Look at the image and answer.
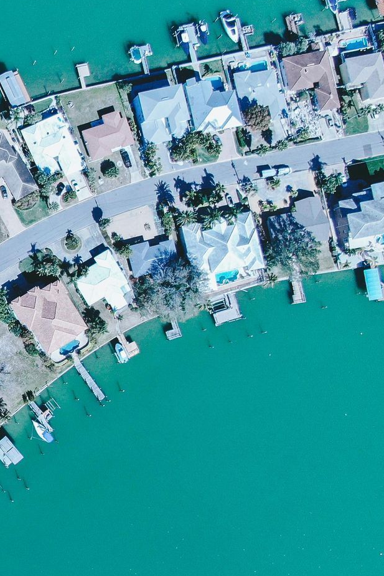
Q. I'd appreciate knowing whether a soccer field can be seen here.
No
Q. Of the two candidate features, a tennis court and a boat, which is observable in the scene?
boat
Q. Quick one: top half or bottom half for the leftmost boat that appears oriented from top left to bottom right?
bottom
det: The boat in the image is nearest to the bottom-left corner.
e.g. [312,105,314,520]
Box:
[34,418,55,444]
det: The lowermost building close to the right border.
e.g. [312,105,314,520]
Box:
[356,269,380,299]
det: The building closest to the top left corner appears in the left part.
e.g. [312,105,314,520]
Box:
[0,70,22,109]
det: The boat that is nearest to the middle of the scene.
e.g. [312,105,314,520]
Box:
[116,343,130,366]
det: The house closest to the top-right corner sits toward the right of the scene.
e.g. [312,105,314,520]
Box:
[336,51,384,102]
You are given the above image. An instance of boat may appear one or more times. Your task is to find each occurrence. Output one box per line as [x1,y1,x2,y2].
[34,418,55,444]
[177,26,191,54]
[349,5,357,20]
[198,19,210,44]
[116,343,130,366]
[328,0,338,12]
[131,42,142,63]
[216,8,239,42]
